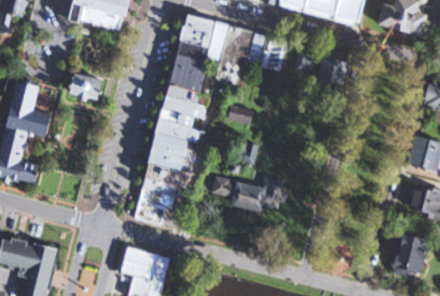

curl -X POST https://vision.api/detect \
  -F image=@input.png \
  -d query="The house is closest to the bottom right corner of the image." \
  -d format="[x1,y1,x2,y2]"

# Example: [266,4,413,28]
[396,235,428,276]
